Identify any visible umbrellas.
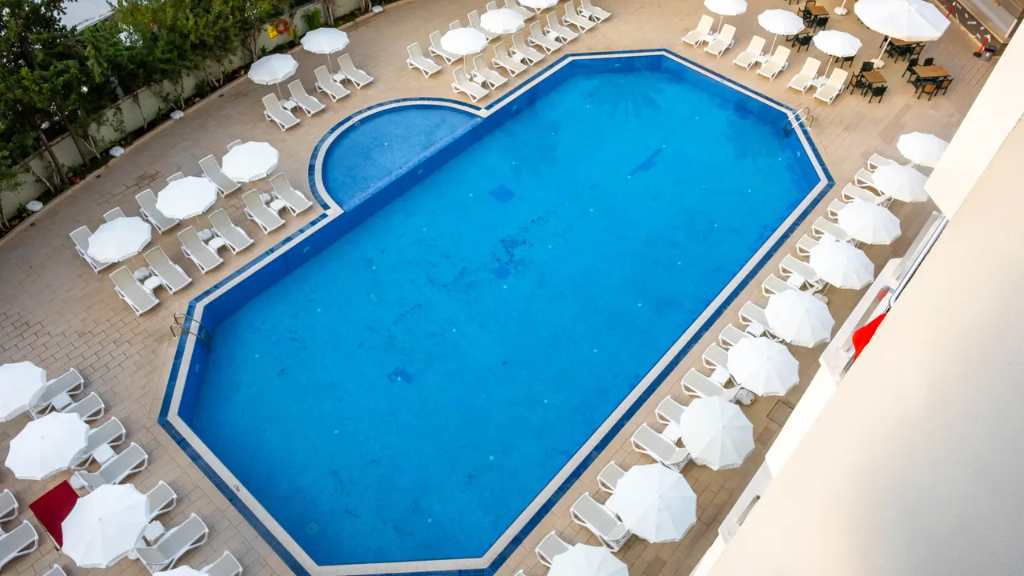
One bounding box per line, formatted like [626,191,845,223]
[57,483,158,576]
[156,176,225,238]
[670,397,754,473]
[757,10,805,59]
[609,464,697,553]
[246,51,300,106]
[814,30,864,80]
[702,0,750,39]
[480,6,528,43]
[220,141,283,202]
[3,408,99,489]
[809,240,876,304]
[0,358,53,431]
[544,523,635,576]
[848,0,953,66]
[762,289,836,350]
[868,162,929,209]
[894,131,948,172]
[440,26,492,79]
[722,335,799,403]
[81,214,156,279]
[839,200,904,249]
[296,25,349,78]
[513,0,560,21]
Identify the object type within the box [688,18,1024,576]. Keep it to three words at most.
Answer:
building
